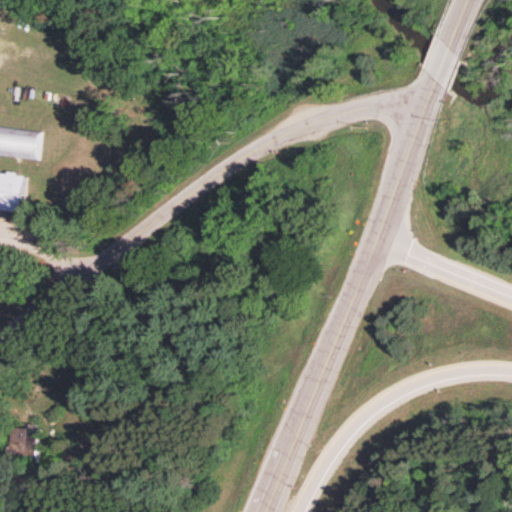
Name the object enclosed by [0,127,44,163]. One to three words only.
building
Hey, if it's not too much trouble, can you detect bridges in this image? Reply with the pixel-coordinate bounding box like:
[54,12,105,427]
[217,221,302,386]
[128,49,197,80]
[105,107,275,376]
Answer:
[419,34,465,105]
